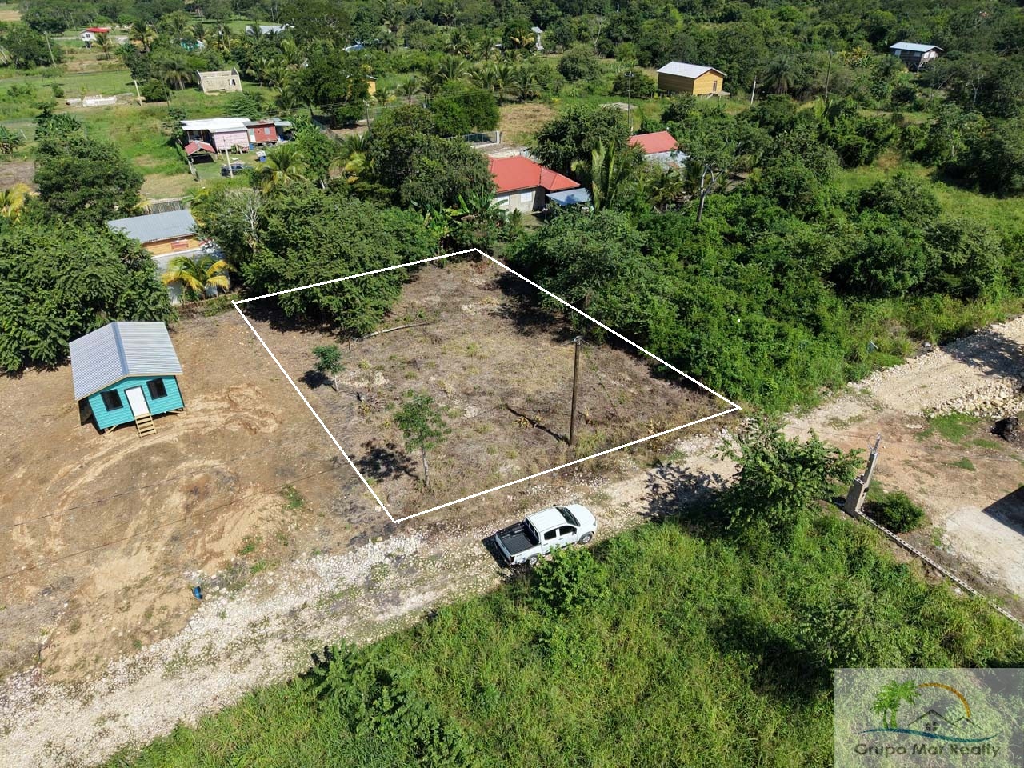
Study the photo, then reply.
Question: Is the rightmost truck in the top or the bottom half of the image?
bottom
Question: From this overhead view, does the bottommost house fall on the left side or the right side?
left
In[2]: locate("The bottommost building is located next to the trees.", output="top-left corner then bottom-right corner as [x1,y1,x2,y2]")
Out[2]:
[70,325,188,440]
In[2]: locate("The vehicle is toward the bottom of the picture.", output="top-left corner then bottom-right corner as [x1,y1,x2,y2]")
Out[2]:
[491,506,601,569]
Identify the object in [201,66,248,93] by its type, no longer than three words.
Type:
house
